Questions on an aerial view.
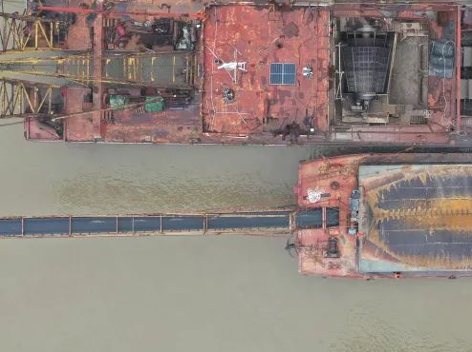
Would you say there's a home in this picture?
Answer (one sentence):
No, the scene contains no home.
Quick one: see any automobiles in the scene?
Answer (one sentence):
No, the scene contains no automobile.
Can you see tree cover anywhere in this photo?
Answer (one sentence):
No, there's no tree cover in this view.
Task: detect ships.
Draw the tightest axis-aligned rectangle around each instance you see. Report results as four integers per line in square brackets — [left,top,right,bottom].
[0,153,472,278]
[0,0,472,149]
